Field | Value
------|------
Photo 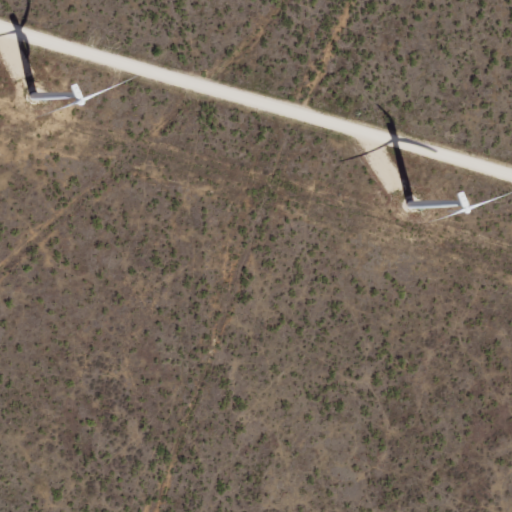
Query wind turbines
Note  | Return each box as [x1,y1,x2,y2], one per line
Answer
[26,76,136,118]
[405,192,512,224]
